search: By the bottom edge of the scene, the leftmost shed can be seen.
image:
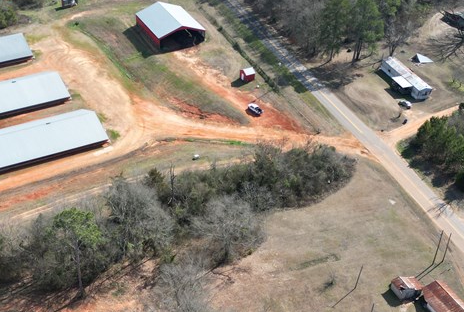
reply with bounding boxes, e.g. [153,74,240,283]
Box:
[390,271,427,299]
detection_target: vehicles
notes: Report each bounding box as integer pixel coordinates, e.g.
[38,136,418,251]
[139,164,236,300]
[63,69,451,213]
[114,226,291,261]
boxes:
[246,105,262,115]
[398,101,413,109]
